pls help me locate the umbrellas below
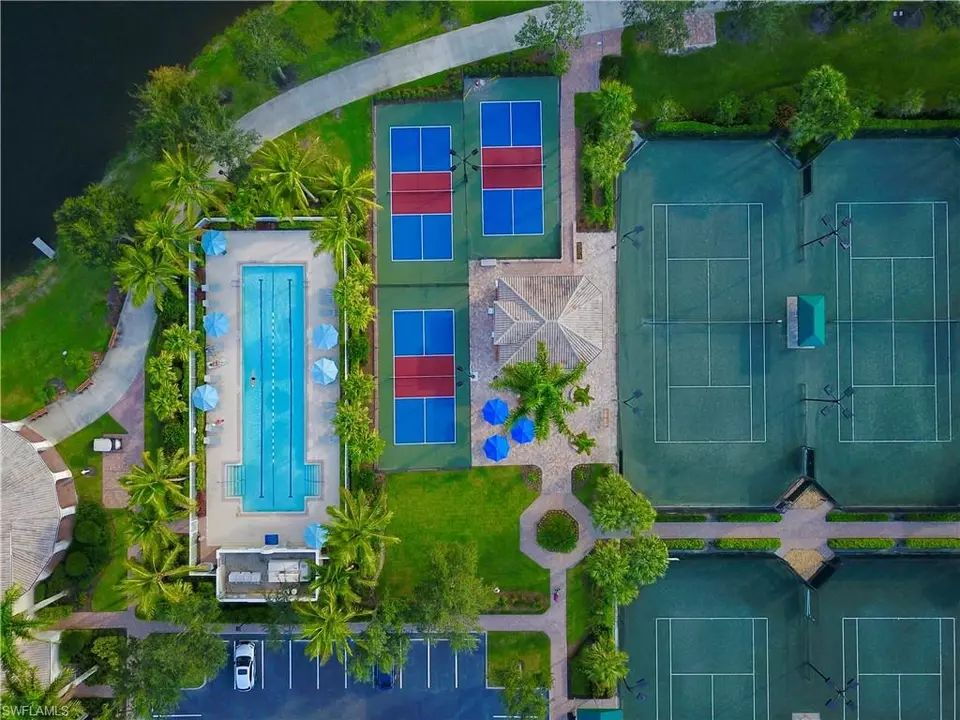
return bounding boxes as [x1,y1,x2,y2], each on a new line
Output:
[483,434,510,460]
[313,323,338,350]
[204,311,231,338]
[202,231,228,256]
[302,521,328,548]
[509,416,535,443]
[194,385,219,411]
[313,359,338,383]
[482,398,507,424]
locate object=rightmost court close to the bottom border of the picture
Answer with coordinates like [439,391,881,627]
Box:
[808,556,960,720]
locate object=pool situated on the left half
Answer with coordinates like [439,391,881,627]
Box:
[210,262,326,516]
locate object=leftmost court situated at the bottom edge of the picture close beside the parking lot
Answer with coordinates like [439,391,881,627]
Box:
[617,558,808,720]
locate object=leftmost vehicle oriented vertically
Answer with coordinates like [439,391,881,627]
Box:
[232,642,256,693]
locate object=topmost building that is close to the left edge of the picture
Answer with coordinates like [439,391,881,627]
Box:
[0,416,78,608]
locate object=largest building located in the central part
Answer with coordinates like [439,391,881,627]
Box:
[494,275,603,370]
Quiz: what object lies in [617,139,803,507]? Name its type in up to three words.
tennis court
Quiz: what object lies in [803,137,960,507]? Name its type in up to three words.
tennis court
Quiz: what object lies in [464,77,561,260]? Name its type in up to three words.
sports court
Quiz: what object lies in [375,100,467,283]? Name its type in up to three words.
sports court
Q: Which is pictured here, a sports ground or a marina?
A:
sports ground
